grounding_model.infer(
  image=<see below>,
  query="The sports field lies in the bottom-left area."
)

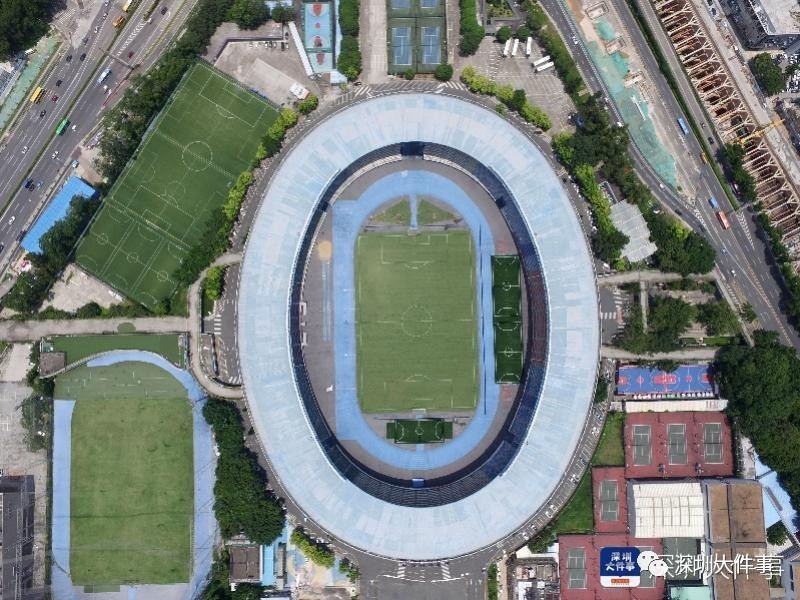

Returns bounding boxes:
[52,350,218,600]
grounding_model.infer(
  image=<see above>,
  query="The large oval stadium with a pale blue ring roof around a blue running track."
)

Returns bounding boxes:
[240,94,598,561]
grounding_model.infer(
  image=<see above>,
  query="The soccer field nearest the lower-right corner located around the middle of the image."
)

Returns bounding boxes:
[356,230,478,413]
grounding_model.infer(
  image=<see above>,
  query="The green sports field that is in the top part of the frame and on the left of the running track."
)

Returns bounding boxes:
[77,58,282,308]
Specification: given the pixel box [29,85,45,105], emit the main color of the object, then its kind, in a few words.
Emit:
yellow vehicle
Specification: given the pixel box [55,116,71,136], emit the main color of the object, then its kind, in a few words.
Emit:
green vehicle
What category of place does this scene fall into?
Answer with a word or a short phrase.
sports ground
